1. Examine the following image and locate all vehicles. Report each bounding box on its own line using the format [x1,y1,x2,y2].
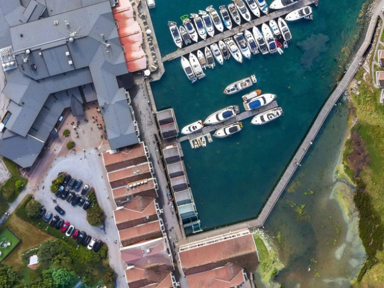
[83,199,91,209]
[38,207,47,218]
[45,211,53,222]
[83,235,91,246]
[75,180,83,191]
[51,215,59,226]
[66,192,76,202]
[66,225,75,236]
[81,184,90,195]
[71,195,81,205]
[55,205,66,214]
[94,240,102,251]
[77,196,86,207]
[56,185,65,197]
[56,218,64,229]
[61,189,69,199]
[78,232,86,242]
[72,228,81,239]
[68,178,77,189]
[61,222,69,232]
